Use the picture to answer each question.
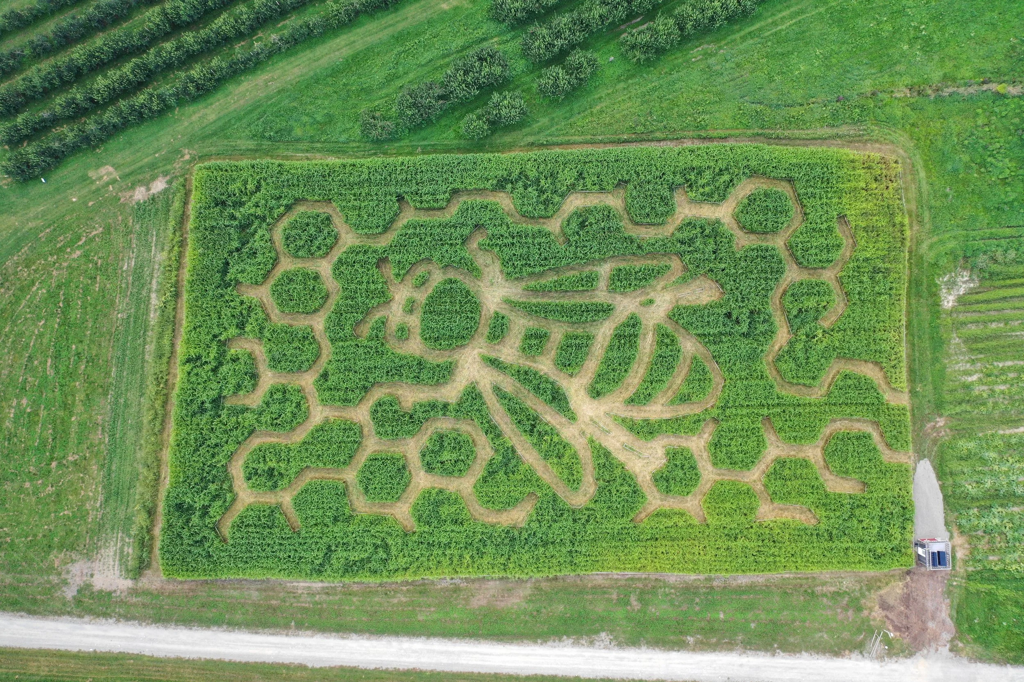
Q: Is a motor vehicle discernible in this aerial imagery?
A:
No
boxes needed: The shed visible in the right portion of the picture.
[916,536,951,570]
